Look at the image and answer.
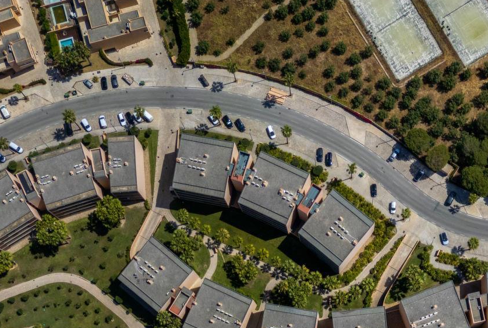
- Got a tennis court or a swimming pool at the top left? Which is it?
swimming pool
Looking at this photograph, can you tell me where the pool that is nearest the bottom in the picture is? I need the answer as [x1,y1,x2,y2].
[57,27,82,55]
